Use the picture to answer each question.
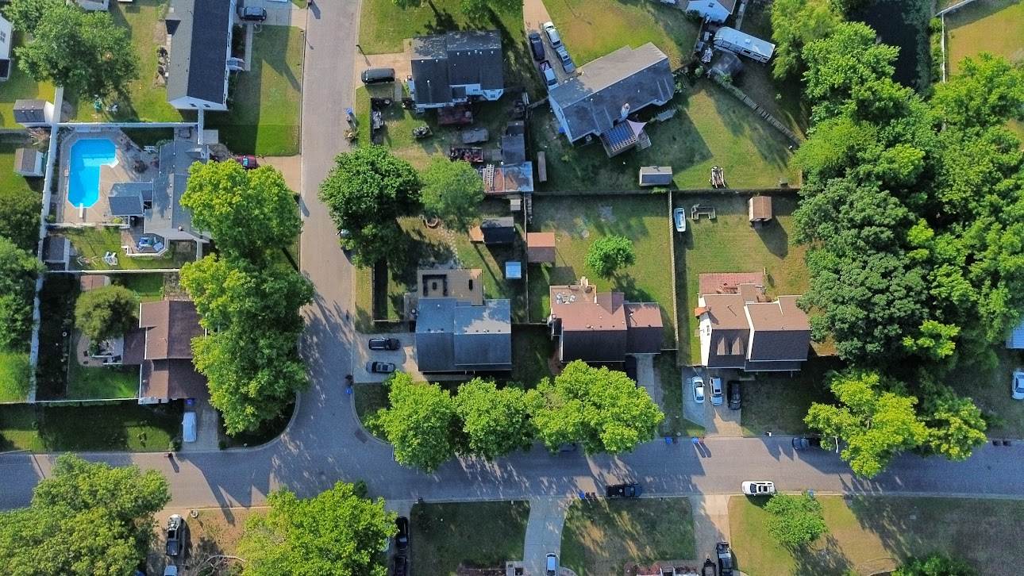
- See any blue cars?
Yes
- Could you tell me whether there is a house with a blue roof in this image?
Yes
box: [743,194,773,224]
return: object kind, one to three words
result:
shed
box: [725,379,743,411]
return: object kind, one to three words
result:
car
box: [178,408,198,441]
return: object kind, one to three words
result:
vehicle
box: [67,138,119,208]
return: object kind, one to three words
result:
swimming pool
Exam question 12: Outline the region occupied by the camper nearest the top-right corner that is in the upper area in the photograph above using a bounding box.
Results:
[712,23,776,65]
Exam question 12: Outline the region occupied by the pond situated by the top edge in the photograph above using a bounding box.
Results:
[854,0,932,98]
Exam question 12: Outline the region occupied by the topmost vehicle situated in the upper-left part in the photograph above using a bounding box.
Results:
[238,4,267,21]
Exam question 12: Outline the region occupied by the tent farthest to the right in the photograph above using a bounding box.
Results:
[715,47,746,79]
